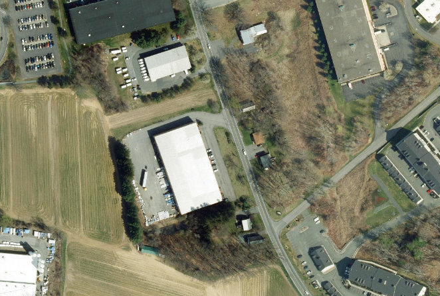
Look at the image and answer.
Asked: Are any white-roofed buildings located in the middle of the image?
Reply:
Yes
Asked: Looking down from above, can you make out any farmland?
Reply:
Yes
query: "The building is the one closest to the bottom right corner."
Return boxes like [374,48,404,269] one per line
[349,261,427,296]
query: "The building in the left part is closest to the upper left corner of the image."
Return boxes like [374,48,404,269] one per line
[70,0,175,46]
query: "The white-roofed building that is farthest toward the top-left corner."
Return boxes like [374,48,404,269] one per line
[145,46,191,82]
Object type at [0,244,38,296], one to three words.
building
